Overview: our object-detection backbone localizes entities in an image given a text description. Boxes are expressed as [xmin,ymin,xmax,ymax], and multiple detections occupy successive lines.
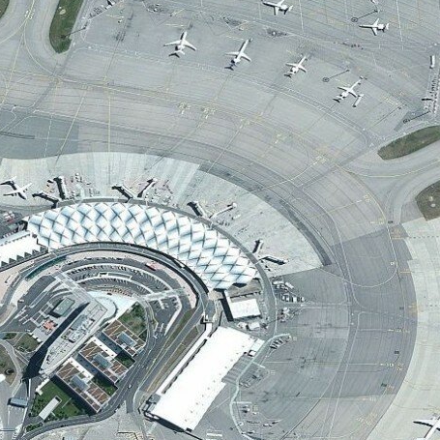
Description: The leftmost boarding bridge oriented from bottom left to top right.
[136,176,158,200]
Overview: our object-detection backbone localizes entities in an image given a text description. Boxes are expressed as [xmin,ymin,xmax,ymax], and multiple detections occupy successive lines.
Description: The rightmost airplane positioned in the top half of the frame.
[359,16,391,36]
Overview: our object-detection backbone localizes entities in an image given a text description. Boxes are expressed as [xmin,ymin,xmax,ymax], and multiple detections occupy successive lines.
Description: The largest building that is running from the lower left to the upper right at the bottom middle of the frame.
[152,327,257,432]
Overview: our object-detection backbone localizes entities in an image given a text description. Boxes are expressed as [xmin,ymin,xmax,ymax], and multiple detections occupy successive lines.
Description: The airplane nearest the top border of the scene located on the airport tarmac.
[262,0,296,16]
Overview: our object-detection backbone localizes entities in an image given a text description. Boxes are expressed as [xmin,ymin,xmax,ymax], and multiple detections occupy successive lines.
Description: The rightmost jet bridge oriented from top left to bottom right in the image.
[188,198,206,219]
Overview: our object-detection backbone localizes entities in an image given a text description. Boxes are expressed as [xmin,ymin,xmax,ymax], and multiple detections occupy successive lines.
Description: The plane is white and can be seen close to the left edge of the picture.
[7,179,26,198]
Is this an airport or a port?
airport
